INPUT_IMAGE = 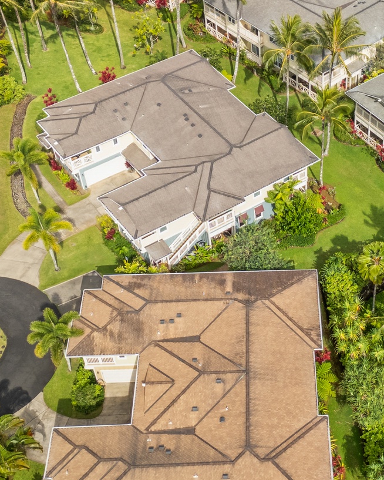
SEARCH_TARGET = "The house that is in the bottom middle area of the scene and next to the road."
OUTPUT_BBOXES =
[43,269,334,480]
